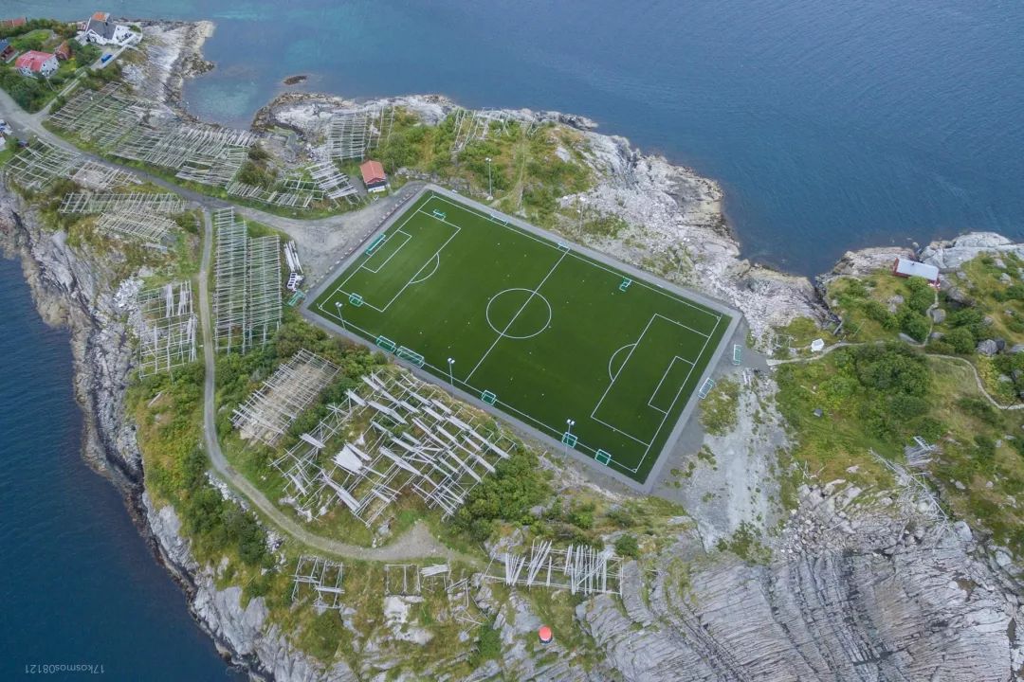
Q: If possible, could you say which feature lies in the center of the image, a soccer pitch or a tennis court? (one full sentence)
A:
The feature located in the center of the image is a soccer pitch.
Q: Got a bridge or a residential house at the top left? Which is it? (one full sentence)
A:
What appears at the top left is a residential house.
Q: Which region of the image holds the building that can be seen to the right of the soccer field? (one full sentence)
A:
You can find the building that can be seen to the right of the soccer field in the right area of the picture.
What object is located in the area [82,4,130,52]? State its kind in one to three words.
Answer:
house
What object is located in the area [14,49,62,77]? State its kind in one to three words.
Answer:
house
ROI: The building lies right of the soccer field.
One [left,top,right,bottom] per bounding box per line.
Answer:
[892,258,938,289]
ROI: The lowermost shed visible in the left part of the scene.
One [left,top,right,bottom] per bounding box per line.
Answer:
[361,159,386,190]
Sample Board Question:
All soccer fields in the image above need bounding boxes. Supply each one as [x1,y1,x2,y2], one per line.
[300,183,743,493]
